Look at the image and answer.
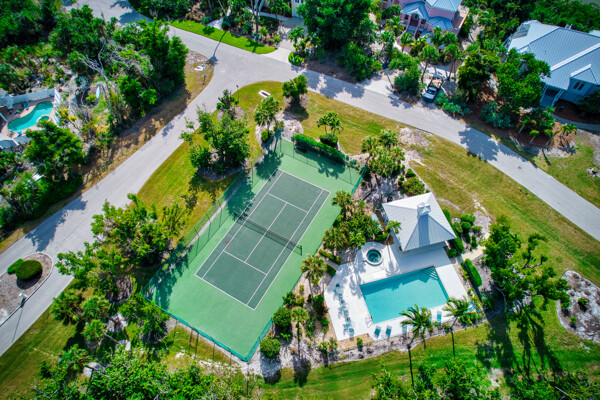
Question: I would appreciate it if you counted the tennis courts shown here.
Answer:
one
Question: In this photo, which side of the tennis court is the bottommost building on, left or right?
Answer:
to the right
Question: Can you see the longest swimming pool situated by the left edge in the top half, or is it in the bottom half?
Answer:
top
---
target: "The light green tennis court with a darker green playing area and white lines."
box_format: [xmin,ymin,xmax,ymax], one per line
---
[148,139,366,365]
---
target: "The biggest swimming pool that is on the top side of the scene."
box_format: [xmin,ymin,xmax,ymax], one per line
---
[6,101,54,131]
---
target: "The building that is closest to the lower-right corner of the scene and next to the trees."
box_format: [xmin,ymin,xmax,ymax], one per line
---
[382,193,456,255]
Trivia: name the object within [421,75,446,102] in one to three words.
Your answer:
truck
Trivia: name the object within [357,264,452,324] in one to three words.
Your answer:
swimming pool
